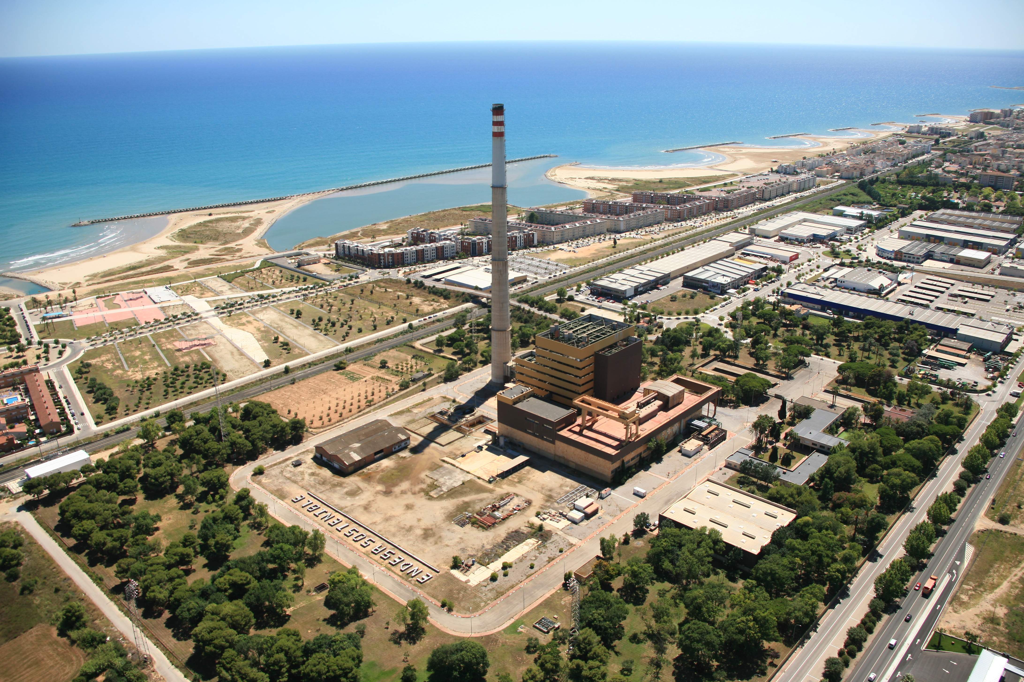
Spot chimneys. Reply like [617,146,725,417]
[489,102,511,385]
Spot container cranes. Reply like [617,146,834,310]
[574,387,645,446]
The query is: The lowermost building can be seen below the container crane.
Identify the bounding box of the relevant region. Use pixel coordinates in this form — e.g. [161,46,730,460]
[574,555,601,585]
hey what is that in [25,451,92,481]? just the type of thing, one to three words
shed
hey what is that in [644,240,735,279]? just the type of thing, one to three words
building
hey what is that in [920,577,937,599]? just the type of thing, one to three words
vehicle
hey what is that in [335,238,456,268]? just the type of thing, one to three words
building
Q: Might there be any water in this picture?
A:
Yes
